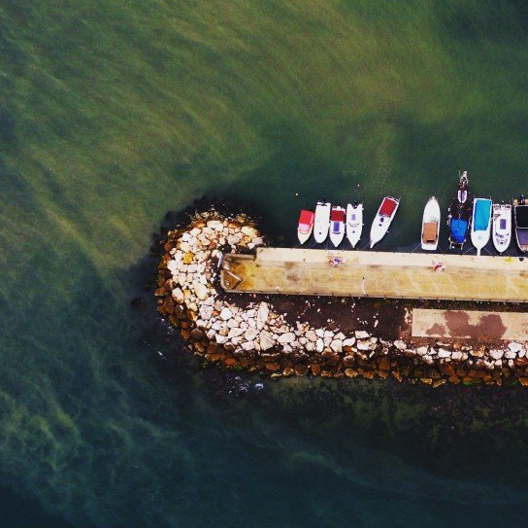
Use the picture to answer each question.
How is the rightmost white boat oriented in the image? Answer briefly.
from top to bottom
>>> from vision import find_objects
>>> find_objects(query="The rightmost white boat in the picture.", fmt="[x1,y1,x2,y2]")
[492,202,512,255]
